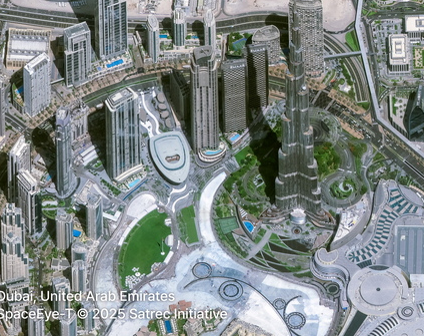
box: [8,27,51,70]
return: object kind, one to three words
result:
building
